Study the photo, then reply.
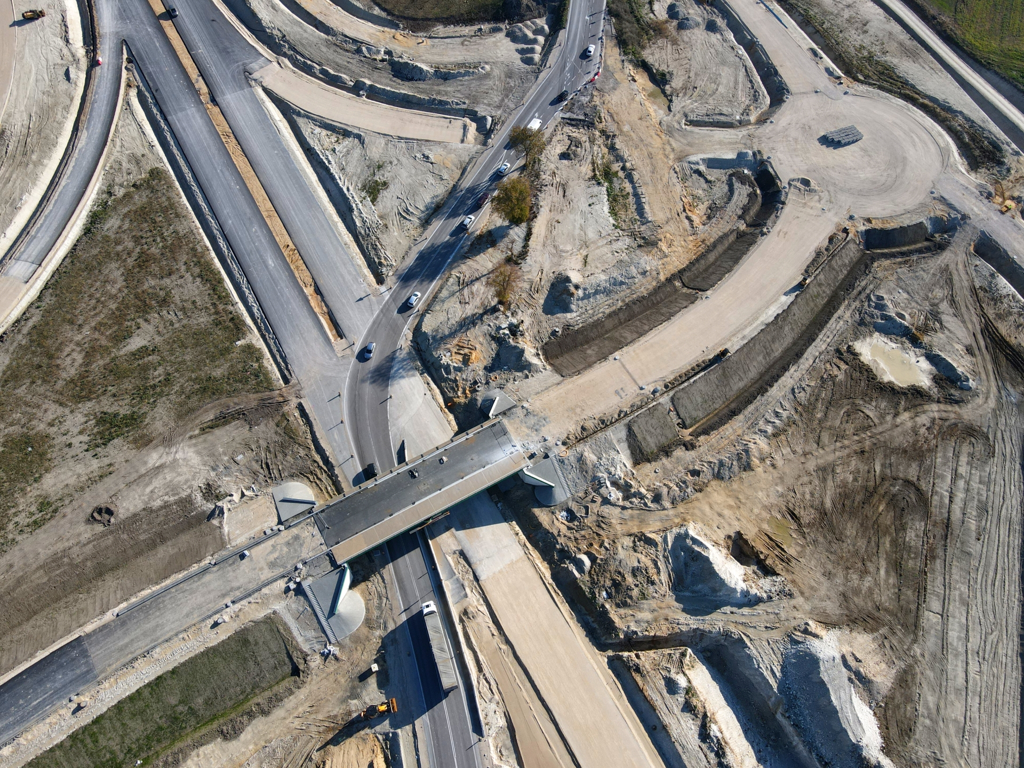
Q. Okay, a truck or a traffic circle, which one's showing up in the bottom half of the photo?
truck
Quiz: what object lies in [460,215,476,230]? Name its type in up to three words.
car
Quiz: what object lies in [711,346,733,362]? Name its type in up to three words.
work vehicle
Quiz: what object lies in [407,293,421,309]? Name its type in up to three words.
car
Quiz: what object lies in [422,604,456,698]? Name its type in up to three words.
truck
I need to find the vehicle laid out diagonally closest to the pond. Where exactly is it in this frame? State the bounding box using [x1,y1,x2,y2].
[798,270,813,288]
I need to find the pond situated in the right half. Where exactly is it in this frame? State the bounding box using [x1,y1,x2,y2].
[869,336,933,388]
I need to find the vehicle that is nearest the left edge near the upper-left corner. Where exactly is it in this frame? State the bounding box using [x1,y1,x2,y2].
[23,6,46,21]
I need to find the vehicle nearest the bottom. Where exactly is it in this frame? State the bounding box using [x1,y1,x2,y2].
[362,698,401,719]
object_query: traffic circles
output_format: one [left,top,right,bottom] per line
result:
[755,83,955,220]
